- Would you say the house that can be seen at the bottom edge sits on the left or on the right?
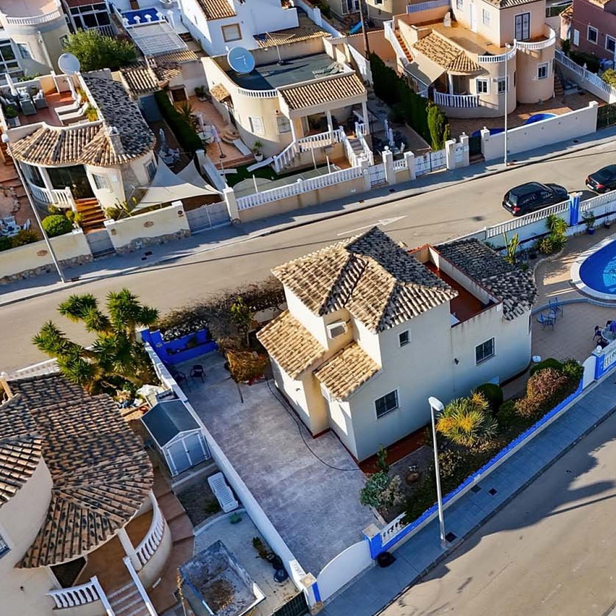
left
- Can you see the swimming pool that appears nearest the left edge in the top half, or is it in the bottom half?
top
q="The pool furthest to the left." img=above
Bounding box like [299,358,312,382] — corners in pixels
[118,8,163,29]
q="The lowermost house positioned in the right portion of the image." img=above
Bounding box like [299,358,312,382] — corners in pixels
[258,224,543,465]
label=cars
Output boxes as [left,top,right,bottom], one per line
[585,161,616,193]
[500,180,572,220]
